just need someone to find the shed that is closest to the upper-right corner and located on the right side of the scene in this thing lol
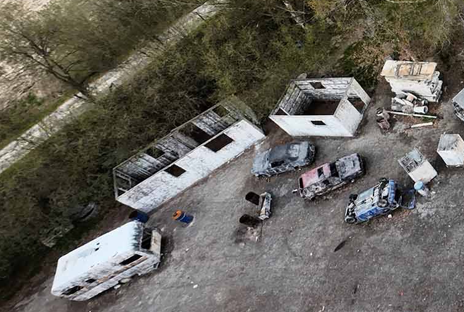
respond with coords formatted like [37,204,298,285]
[269,77,369,136]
